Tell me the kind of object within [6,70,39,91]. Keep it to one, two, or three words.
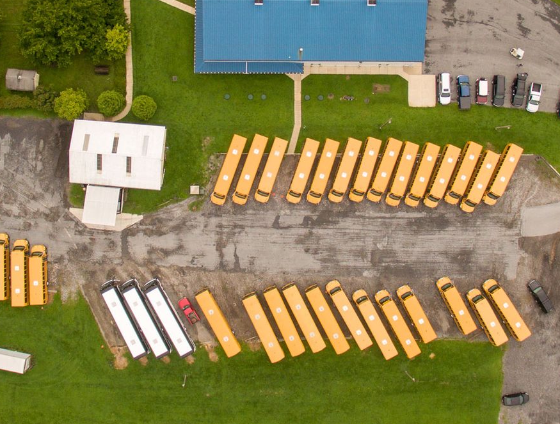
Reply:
shed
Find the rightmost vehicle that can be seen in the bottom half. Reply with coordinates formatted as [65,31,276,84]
[527,278,554,315]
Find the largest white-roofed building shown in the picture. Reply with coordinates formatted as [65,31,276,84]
[70,120,165,190]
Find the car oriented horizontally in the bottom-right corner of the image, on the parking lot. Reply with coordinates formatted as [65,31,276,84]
[500,391,530,405]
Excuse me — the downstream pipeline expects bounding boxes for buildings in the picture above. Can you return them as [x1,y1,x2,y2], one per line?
[70,120,165,190]
[191,0,428,76]
[6,70,39,91]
